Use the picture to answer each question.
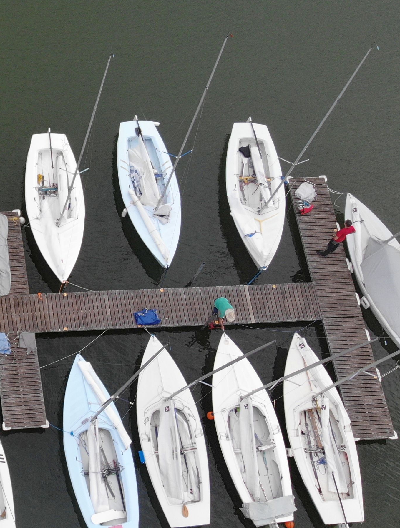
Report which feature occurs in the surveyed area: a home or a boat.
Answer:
boat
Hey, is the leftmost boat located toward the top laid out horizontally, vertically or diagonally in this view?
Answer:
vertically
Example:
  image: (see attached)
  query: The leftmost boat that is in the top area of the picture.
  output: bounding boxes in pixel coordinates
[27,52,113,282]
